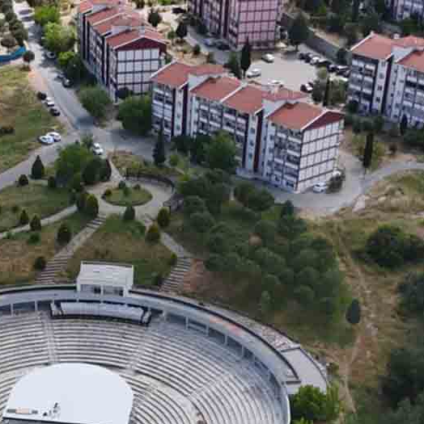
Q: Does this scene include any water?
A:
No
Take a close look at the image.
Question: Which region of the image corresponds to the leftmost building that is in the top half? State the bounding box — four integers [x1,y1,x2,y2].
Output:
[79,0,178,103]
